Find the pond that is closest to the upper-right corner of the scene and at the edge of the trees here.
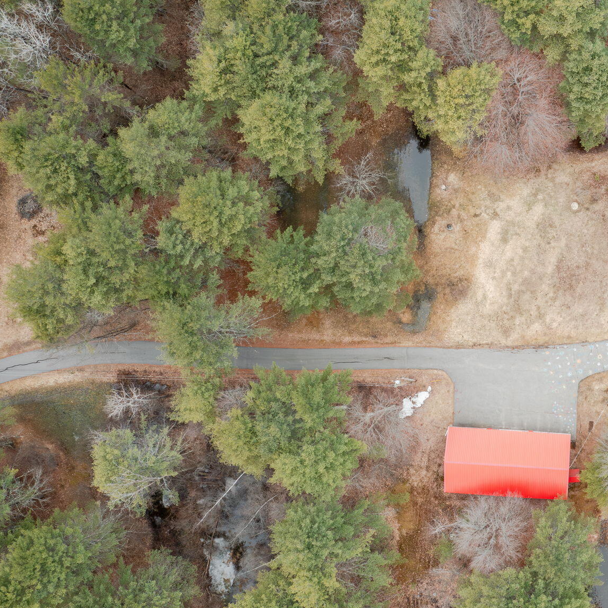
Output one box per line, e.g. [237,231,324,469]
[393,120,435,234]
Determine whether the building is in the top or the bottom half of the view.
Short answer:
bottom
